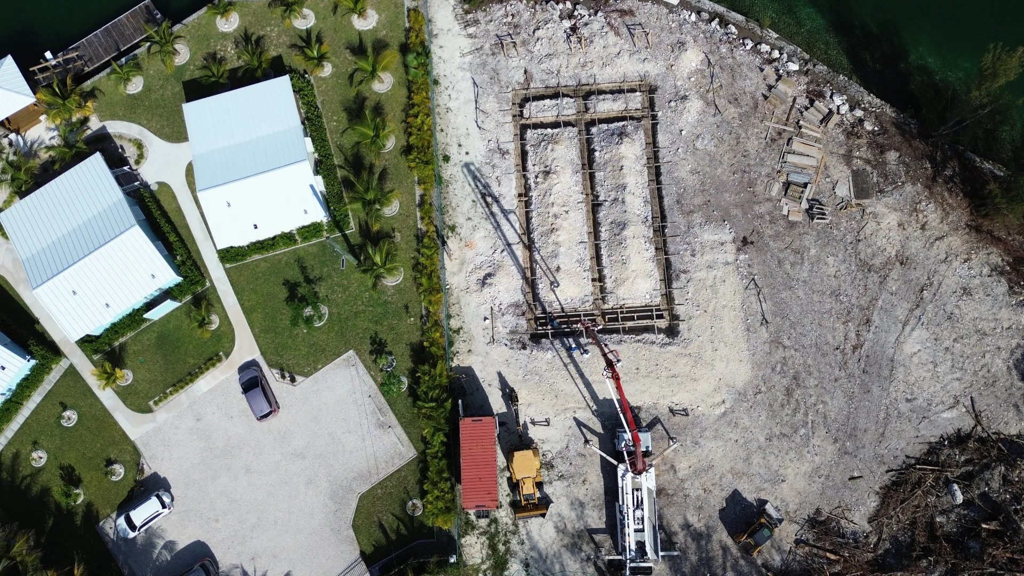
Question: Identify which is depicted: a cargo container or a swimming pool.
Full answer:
I can see a cargo container in this picture.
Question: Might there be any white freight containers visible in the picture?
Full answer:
No, there isn't any white freight container down there.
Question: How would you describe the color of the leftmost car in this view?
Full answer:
The leftmost car looks white in the image.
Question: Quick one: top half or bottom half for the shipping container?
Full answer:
The bottom half of the photo is where the shipping container is.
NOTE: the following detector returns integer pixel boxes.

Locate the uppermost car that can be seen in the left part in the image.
[237,360,282,427]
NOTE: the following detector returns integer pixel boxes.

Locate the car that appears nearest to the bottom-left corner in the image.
[112,487,179,540]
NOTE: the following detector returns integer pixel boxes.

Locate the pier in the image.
[21,0,167,91]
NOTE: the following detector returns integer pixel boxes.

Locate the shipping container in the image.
[458,397,501,513]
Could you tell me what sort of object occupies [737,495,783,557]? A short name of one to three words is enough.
work vehicle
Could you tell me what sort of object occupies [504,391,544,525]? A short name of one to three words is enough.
work vehicle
